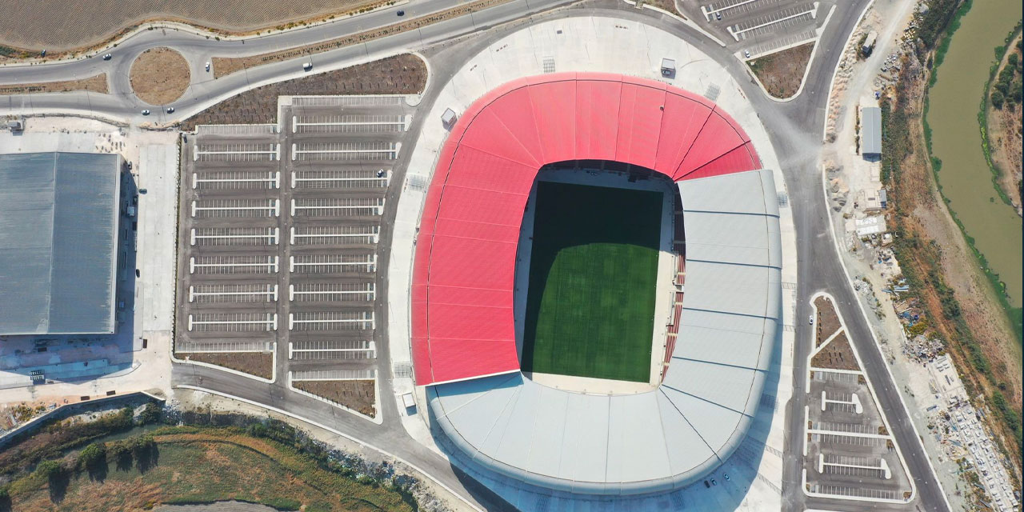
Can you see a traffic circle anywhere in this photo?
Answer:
Yes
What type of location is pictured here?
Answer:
sports ground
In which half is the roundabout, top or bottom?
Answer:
top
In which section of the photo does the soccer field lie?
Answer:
center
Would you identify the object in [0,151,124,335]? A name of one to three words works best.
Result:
warehouse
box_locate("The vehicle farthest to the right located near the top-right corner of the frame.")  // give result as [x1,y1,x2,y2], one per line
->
[861,27,879,52]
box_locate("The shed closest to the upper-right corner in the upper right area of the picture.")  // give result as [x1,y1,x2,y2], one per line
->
[860,107,882,154]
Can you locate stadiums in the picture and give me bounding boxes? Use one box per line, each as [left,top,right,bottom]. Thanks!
[411,71,783,495]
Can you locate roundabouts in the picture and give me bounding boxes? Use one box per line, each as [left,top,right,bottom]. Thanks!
[128,45,192,107]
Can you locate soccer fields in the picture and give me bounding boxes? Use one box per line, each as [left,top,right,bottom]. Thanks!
[522,182,663,383]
